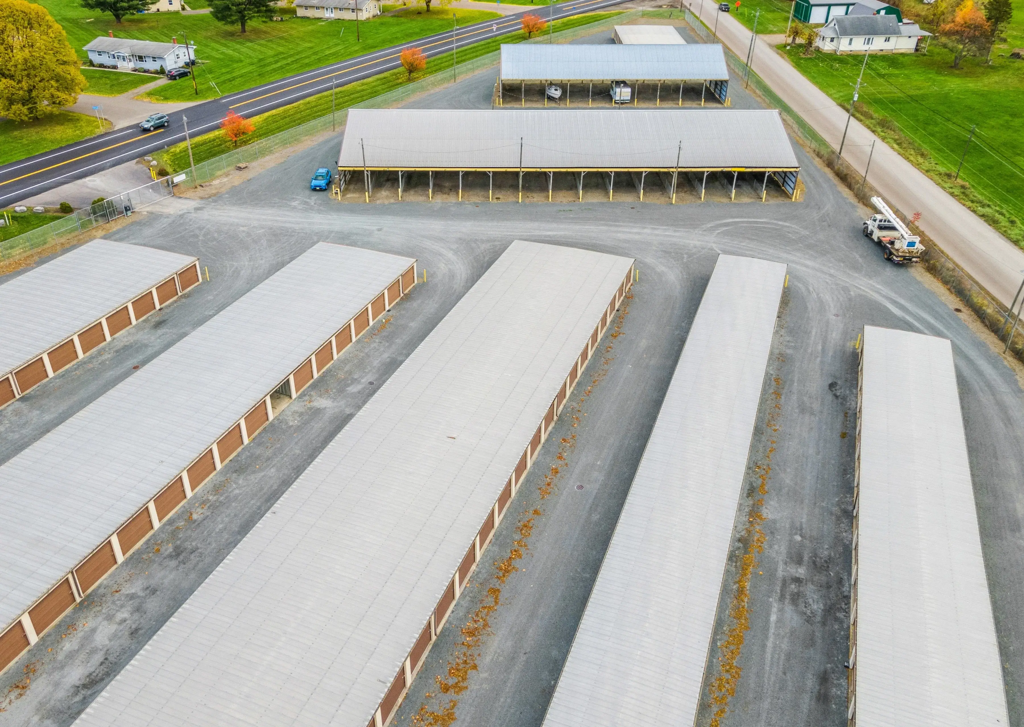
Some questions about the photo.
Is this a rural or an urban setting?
urban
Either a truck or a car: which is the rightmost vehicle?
truck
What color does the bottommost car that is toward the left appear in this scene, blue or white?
blue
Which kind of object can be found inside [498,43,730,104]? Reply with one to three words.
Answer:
shed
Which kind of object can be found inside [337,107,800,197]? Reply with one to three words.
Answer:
shed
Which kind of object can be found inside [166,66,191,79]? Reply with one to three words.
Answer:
vehicle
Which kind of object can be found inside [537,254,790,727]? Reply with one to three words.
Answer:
building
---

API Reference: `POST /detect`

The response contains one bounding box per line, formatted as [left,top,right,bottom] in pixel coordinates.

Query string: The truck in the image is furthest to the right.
[864,197,927,267]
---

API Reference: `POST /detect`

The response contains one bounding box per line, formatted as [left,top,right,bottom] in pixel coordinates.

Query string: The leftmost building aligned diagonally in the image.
[0,238,201,416]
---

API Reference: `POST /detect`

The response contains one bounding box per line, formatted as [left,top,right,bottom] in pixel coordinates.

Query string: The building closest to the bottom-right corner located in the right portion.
[838,325,1010,727]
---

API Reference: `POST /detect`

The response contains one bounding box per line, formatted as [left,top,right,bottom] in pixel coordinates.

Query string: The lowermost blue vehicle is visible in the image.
[310,167,332,189]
